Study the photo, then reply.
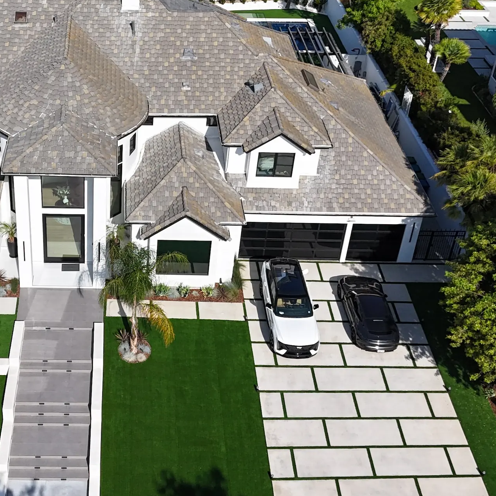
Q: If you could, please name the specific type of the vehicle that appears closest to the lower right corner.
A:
car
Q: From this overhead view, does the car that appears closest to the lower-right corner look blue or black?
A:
black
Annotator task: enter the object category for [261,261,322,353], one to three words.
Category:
car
